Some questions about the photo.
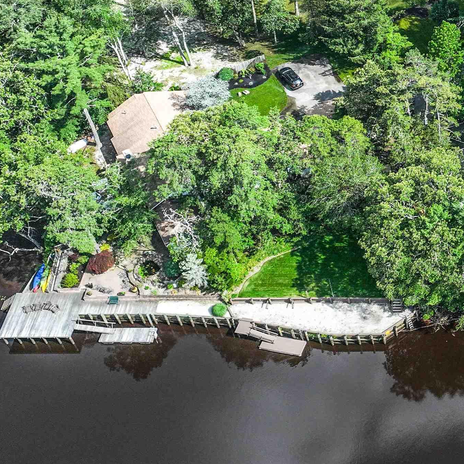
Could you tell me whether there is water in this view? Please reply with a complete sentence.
Yes, water shows up in the scene.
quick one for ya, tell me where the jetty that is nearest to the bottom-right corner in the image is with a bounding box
[259,337,307,358]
